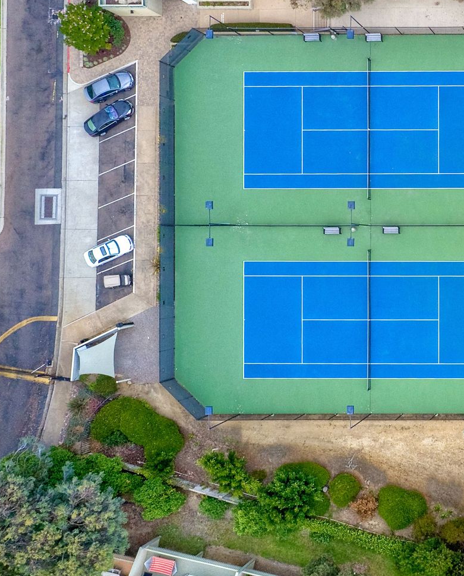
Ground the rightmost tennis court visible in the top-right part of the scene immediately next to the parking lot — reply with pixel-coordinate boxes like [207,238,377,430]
[243,71,464,188]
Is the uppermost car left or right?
left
